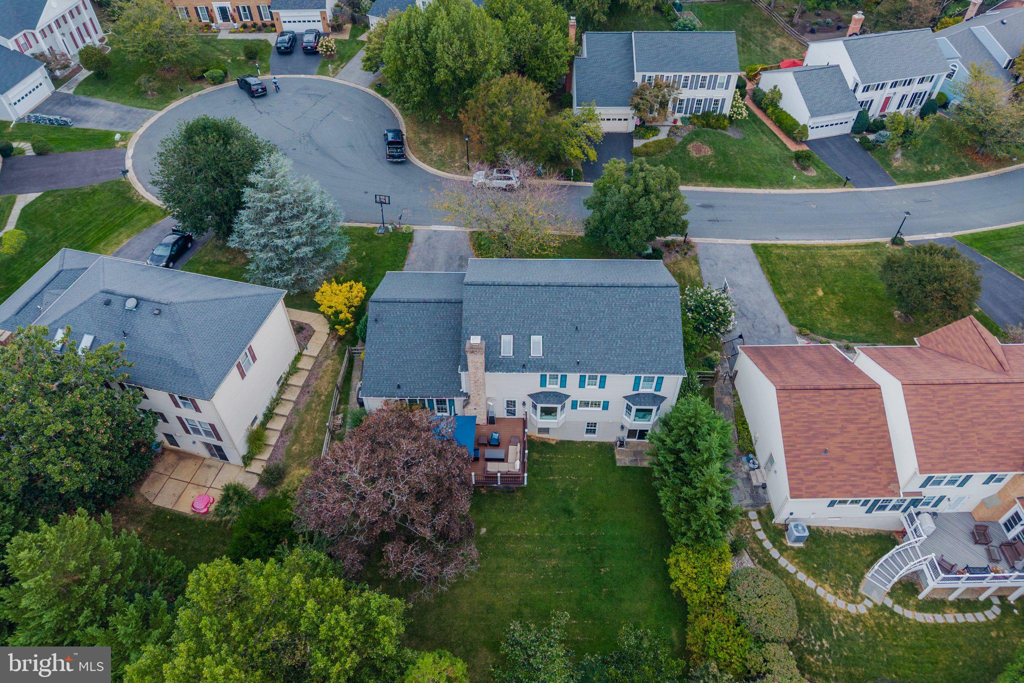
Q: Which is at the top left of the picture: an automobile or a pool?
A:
automobile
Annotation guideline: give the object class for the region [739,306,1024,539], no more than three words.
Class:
house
